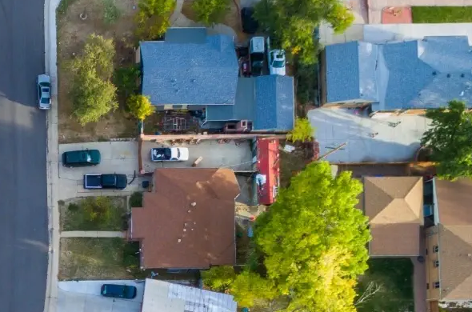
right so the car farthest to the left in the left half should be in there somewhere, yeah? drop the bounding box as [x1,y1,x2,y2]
[36,74,53,110]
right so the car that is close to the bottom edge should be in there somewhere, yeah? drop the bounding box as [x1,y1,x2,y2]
[100,283,137,299]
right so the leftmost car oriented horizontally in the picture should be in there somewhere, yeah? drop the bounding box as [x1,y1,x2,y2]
[61,149,100,167]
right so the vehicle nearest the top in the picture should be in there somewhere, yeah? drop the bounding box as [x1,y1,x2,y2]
[240,5,259,36]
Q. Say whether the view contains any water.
No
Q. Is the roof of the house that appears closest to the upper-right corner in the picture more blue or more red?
blue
